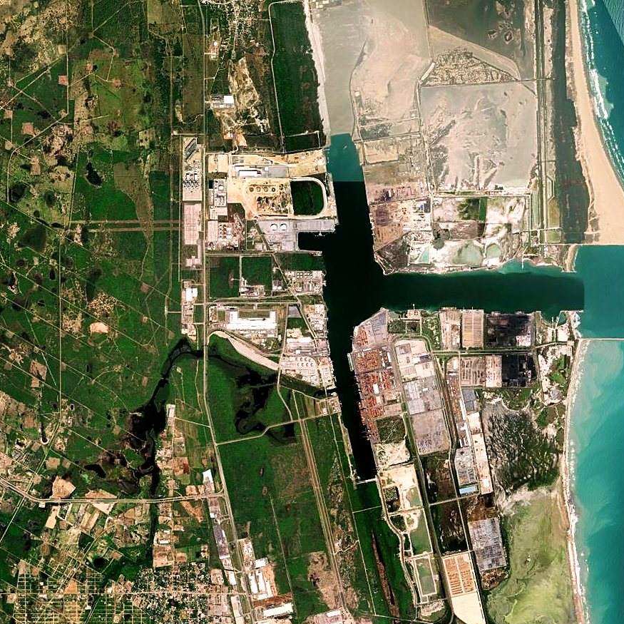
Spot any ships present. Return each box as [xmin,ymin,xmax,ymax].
[358,401,365,426]
[348,353,353,371]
